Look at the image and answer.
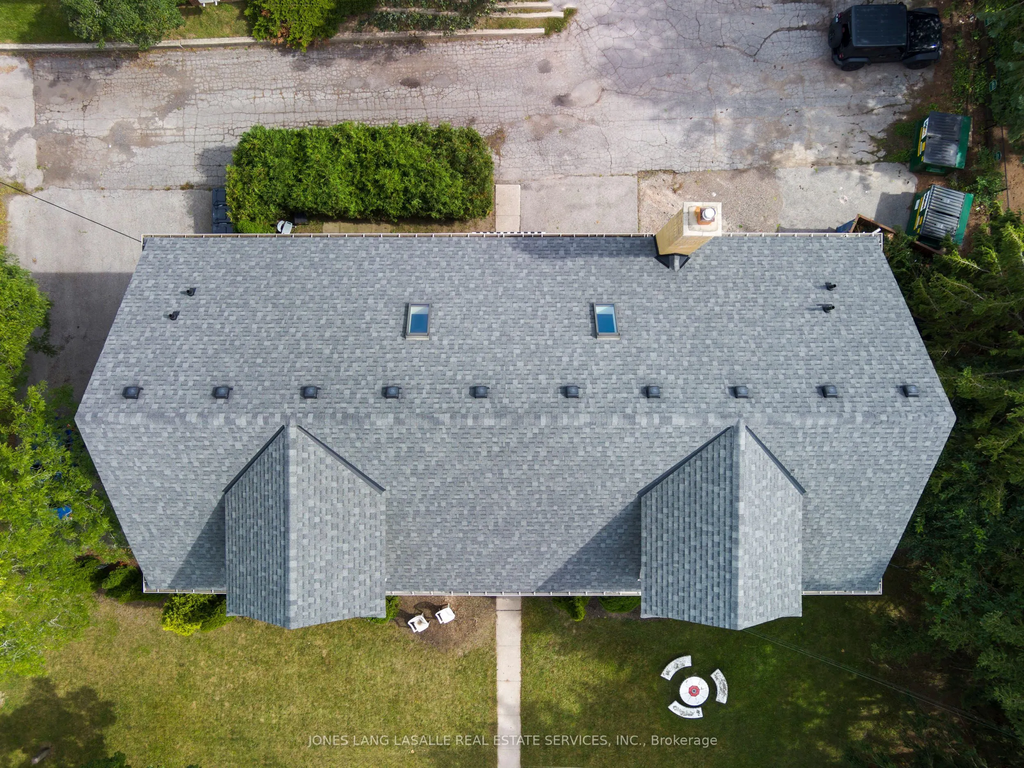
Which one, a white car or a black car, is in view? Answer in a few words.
black car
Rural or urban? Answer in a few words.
urban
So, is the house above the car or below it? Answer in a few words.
below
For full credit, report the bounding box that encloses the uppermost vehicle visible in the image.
[830,4,941,73]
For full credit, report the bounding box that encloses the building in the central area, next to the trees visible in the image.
[73,202,955,630]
